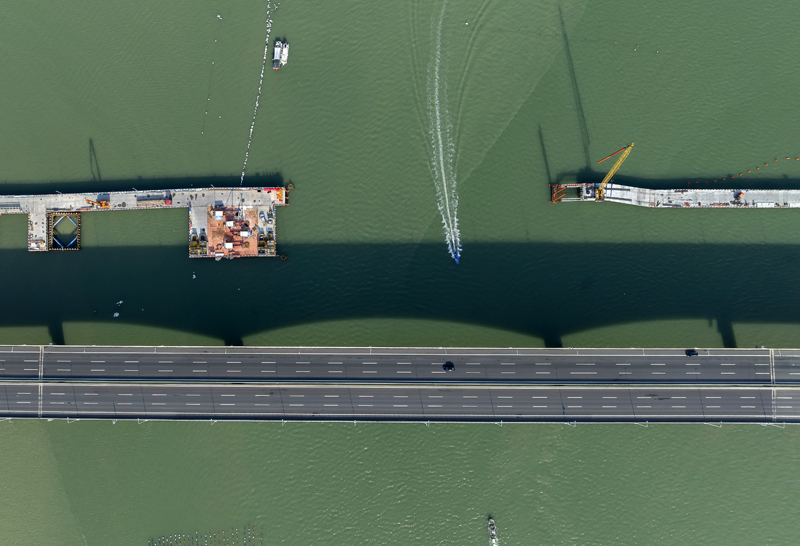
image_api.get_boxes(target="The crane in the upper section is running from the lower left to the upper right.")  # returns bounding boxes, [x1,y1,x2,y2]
[594,143,634,203]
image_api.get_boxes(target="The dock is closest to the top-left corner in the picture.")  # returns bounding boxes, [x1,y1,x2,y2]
[28,212,49,252]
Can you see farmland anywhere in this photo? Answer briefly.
No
